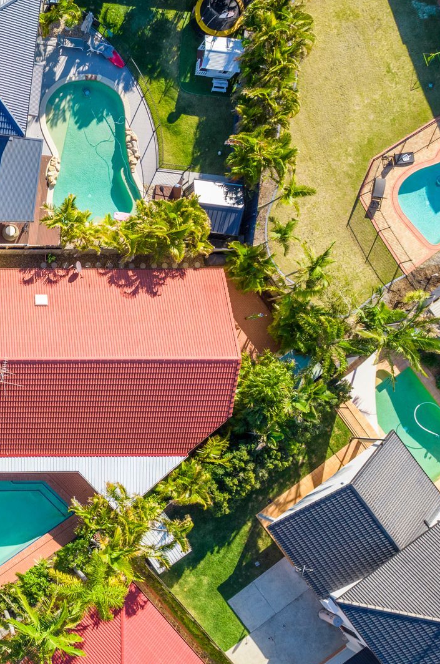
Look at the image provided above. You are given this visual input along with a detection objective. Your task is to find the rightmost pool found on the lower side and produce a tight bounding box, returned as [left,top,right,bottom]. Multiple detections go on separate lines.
[376,360,440,485]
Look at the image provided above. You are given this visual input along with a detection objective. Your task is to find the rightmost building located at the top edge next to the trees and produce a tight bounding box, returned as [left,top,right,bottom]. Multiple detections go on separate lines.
[199,33,243,94]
